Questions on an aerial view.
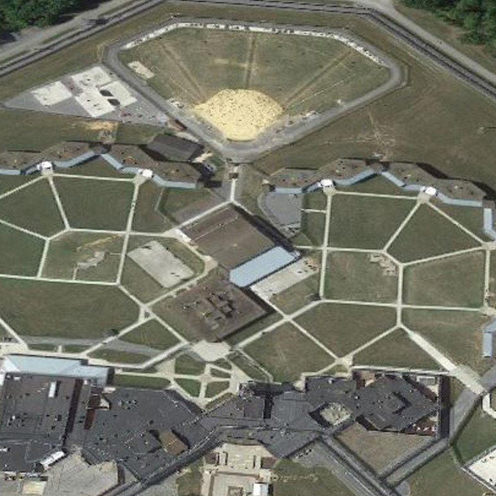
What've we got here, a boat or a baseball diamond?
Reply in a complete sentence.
It is a baseball diamond that can be seen here.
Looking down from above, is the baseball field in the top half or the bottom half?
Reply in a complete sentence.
It is in the top half that the baseball field appears.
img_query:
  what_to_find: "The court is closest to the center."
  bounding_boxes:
[254,258,319,298]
